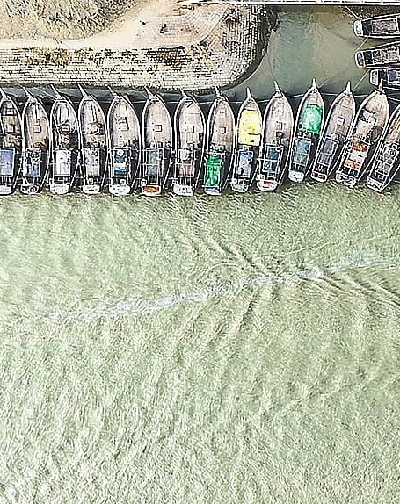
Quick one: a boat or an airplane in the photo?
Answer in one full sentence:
The image shows a boat.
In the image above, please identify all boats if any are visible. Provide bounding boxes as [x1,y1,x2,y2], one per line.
[19,83,49,196]
[311,81,354,181]
[105,86,138,197]
[257,80,293,192]
[372,66,400,91]
[234,88,263,194]
[77,82,107,196]
[203,87,236,197]
[0,88,23,196]
[367,109,400,192]
[355,14,400,40]
[337,79,387,187]
[140,86,172,198]
[288,78,324,182]
[48,85,78,196]
[172,90,206,198]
